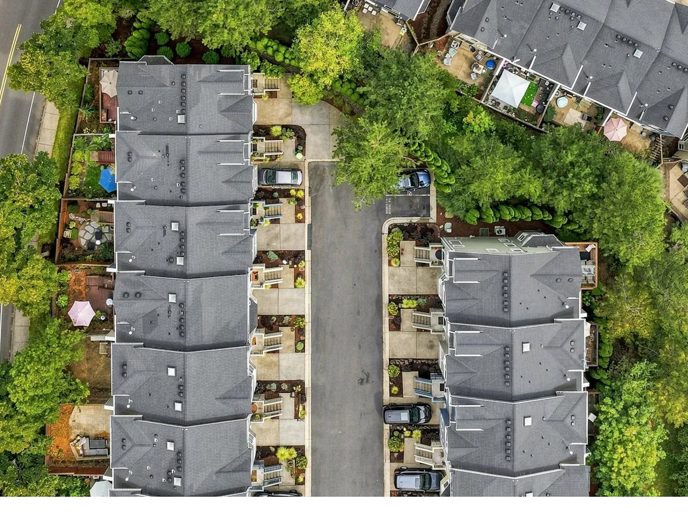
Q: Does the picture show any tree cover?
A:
Yes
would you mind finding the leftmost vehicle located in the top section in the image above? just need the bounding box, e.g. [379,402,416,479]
[261,167,304,188]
